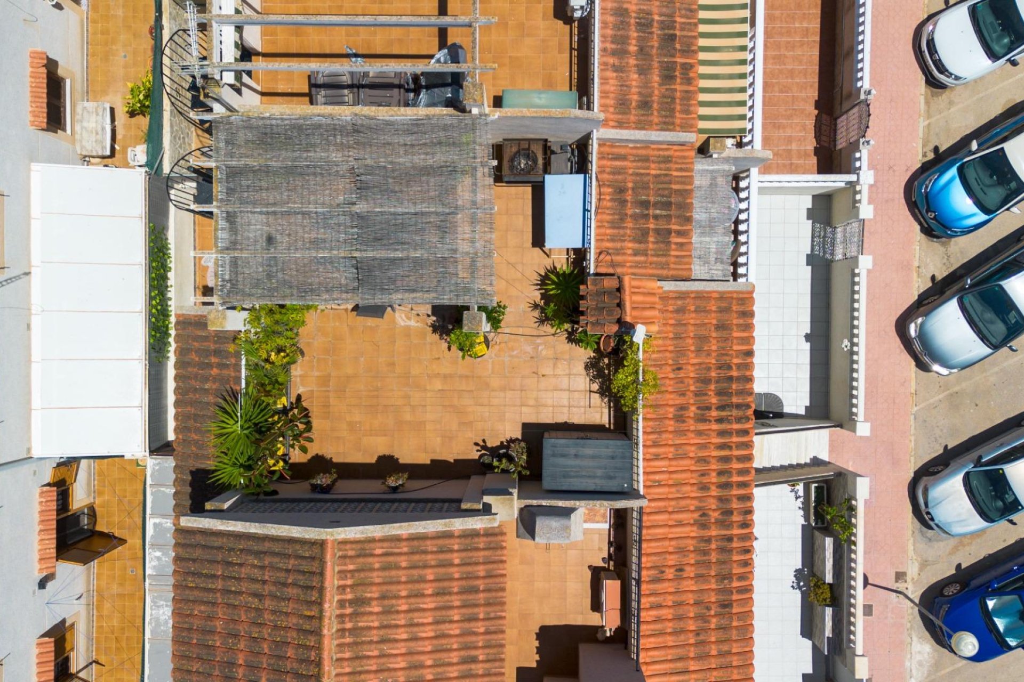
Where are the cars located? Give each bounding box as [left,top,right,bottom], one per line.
[915,432,1024,545]
[927,555,1024,663]
[915,0,1024,88]
[900,251,1024,381]
[909,126,1024,243]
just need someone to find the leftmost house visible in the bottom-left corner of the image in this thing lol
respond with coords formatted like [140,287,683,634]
[0,459,125,682]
